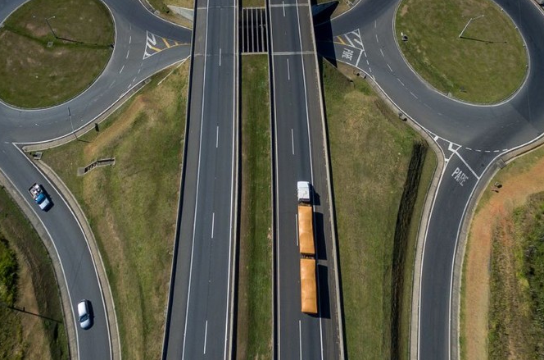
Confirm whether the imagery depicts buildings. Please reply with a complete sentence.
No, no building is visible in the scene.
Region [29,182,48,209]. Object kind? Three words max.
vehicle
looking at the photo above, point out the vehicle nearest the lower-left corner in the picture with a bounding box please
[76,296,90,330]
